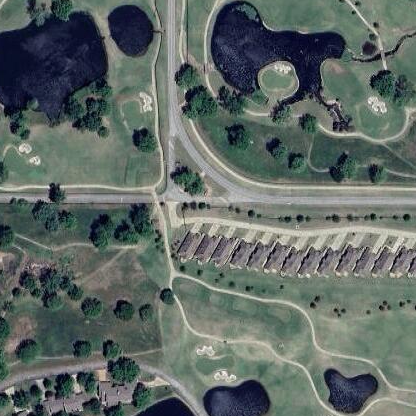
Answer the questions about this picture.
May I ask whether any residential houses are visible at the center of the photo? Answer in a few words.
Yes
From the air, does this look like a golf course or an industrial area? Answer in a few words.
golf course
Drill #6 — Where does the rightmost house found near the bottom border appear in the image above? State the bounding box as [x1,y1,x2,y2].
[100,382,136,405]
